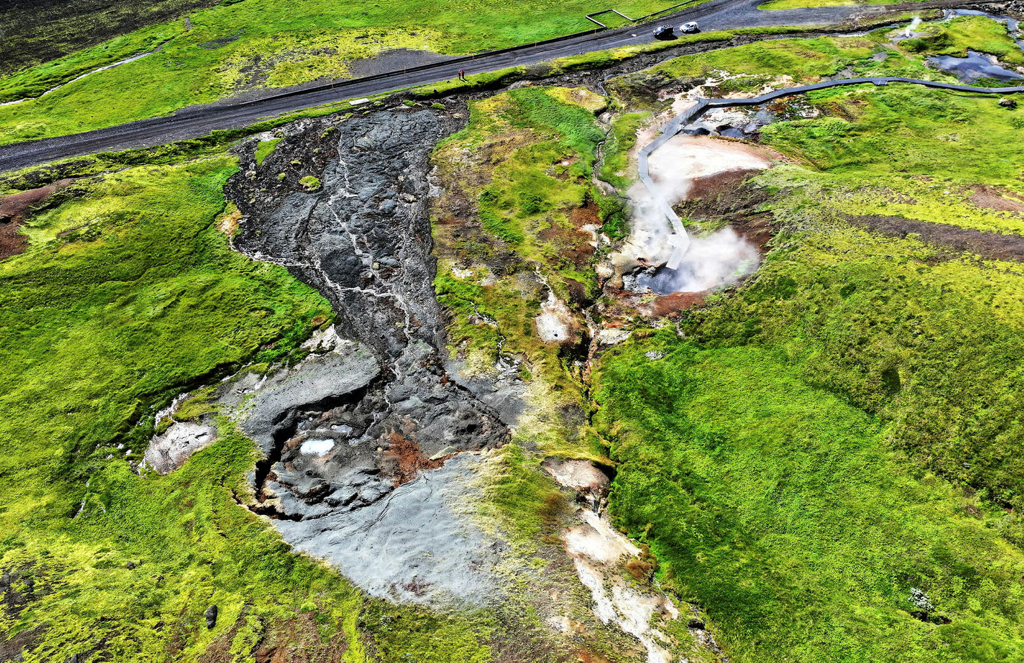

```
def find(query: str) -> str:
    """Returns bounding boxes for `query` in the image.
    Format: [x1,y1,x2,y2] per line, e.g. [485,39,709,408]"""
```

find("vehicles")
[654,24,676,38]
[680,22,701,33]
